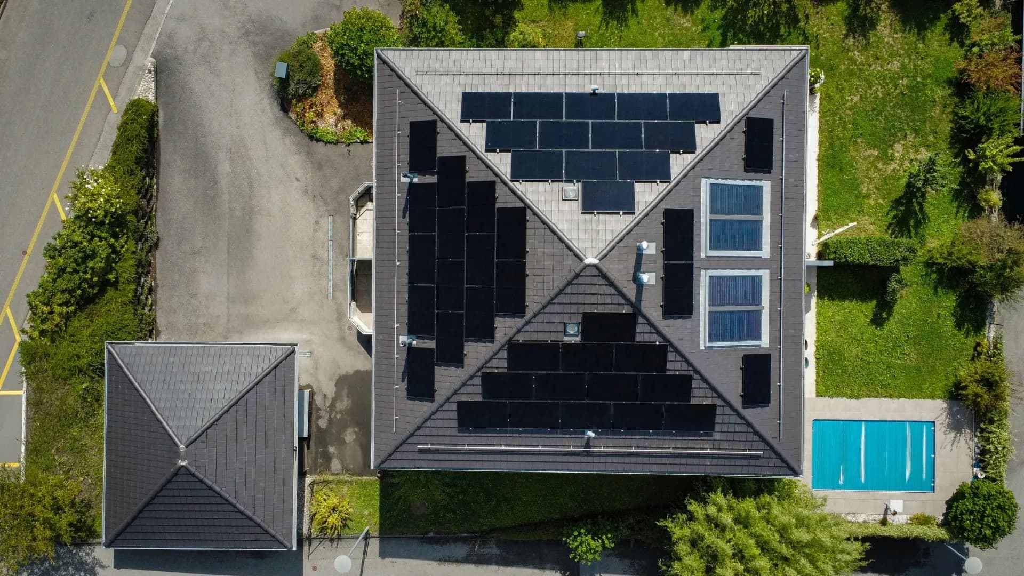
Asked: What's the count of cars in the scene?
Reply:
0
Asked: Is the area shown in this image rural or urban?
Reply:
urban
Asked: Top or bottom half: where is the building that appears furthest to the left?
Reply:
bottom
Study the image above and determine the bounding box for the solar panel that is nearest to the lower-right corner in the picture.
[743,354,770,406]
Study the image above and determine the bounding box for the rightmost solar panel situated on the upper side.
[744,117,772,171]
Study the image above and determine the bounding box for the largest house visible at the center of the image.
[348,46,809,478]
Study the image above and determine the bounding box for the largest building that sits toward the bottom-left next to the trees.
[104,342,299,551]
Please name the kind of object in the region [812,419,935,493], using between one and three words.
swimming pool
